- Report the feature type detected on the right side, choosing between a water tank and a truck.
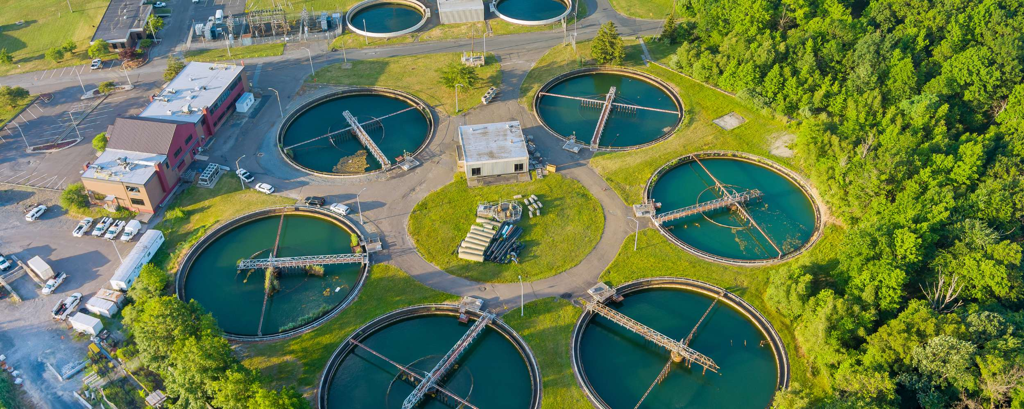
water tank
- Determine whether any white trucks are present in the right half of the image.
No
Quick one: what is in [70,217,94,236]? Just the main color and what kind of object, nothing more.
white vehicle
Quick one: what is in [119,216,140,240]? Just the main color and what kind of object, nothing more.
white truck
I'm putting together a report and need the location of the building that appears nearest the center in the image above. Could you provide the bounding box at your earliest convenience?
[454,121,532,186]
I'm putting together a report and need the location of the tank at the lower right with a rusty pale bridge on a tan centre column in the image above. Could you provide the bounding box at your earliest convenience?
[574,276,790,409]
